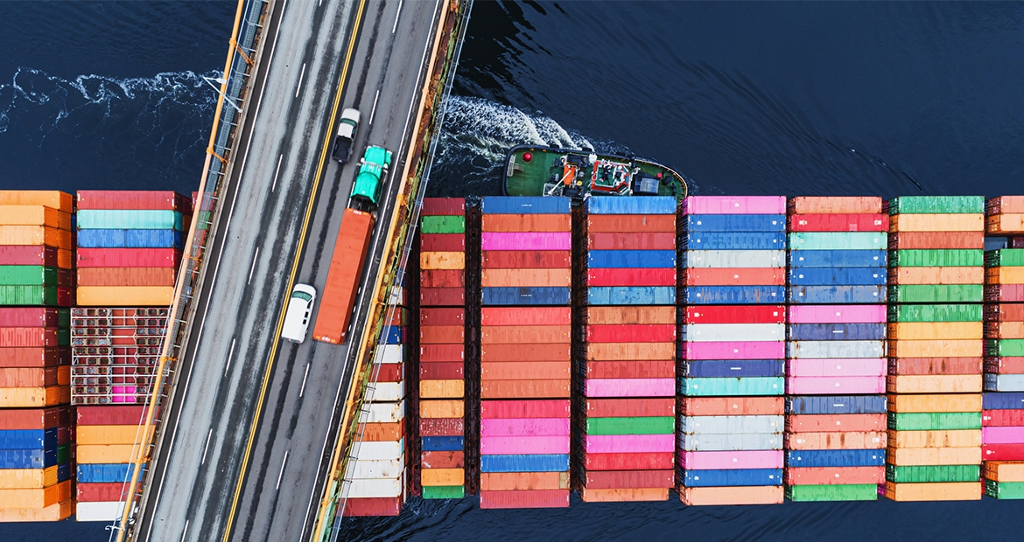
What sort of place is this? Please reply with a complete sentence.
The area seen from above is a port.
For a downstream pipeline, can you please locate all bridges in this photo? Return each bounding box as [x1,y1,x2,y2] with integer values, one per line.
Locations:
[111,0,473,542]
